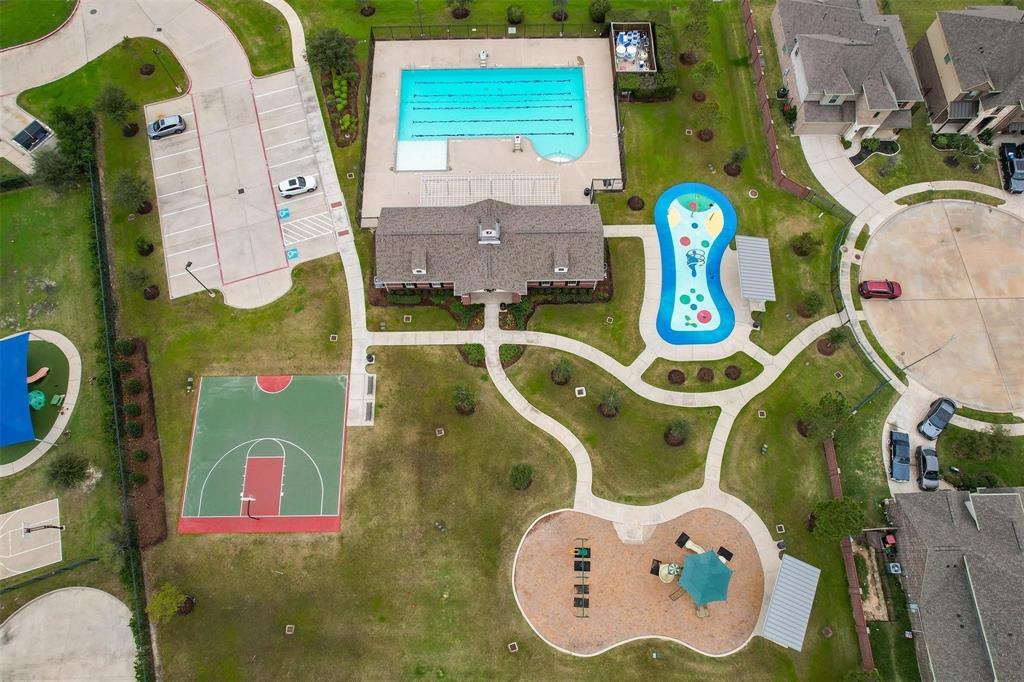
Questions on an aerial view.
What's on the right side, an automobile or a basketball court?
automobile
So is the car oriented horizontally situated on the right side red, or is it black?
red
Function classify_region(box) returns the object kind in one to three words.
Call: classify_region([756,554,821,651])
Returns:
building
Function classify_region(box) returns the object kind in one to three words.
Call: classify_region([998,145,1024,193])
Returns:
truck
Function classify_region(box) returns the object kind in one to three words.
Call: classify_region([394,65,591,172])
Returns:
swimming pool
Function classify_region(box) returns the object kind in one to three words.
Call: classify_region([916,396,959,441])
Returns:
car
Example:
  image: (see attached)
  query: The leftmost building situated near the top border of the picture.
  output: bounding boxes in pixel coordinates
[772,0,924,141]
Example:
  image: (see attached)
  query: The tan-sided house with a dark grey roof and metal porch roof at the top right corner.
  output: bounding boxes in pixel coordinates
[913,10,1024,137]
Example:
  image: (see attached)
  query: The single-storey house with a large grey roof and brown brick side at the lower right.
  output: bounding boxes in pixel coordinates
[887,483,1024,682]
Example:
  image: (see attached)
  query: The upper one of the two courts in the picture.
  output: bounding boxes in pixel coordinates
[178,374,349,533]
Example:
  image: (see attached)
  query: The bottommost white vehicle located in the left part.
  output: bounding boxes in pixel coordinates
[277,175,318,199]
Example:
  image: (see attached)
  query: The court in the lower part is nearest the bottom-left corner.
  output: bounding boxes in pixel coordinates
[0,499,62,579]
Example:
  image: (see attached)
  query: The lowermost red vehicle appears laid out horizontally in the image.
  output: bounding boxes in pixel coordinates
[856,278,903,299]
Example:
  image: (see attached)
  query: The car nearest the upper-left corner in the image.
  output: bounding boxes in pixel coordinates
[147,114,187,140]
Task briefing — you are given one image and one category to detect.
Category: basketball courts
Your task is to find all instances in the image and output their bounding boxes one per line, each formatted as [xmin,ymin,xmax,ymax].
[178,374,349,533]
[0,499,62,579]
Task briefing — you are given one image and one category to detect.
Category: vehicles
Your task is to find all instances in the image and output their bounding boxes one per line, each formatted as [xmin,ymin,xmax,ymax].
[998,145,1024,193]
[916,396,959,441]
[856,278,903,299]
[277,175,318,199]
[886,429,914,483]
[916,444,943,491]
[147,114,187,140]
